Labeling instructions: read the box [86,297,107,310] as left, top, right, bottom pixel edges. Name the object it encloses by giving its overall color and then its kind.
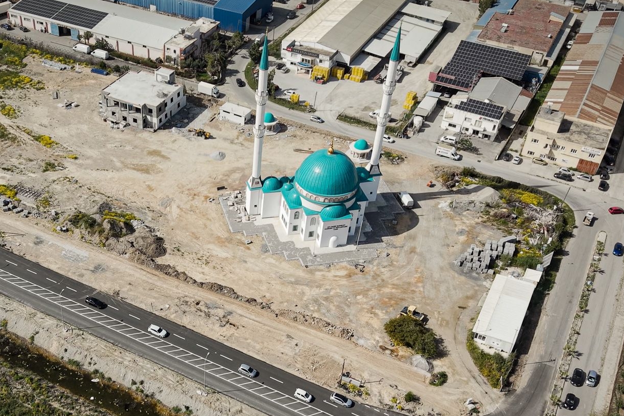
black vehicle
